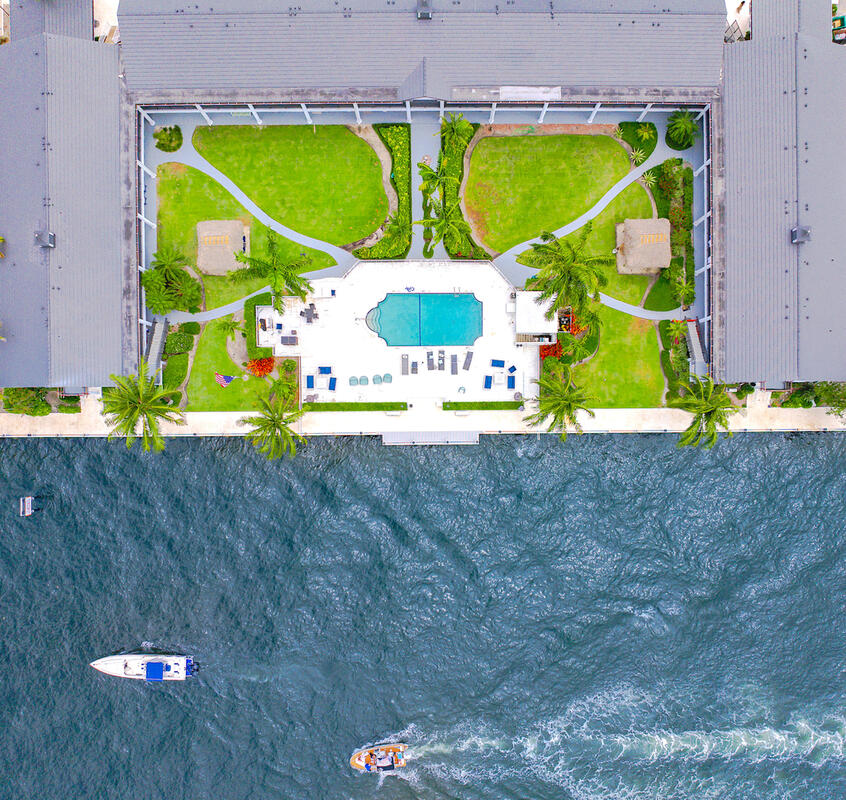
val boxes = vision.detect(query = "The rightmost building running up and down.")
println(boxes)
[692,31,846,382]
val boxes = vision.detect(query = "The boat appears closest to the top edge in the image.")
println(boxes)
[90,652,199,681]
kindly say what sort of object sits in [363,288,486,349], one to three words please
swimming pool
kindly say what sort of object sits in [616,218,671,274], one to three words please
shed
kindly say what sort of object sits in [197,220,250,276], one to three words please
shed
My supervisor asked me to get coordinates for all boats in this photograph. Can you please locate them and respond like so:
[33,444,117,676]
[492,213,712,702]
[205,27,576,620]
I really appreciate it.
[350,742,412,773]
[90,652,199,681]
